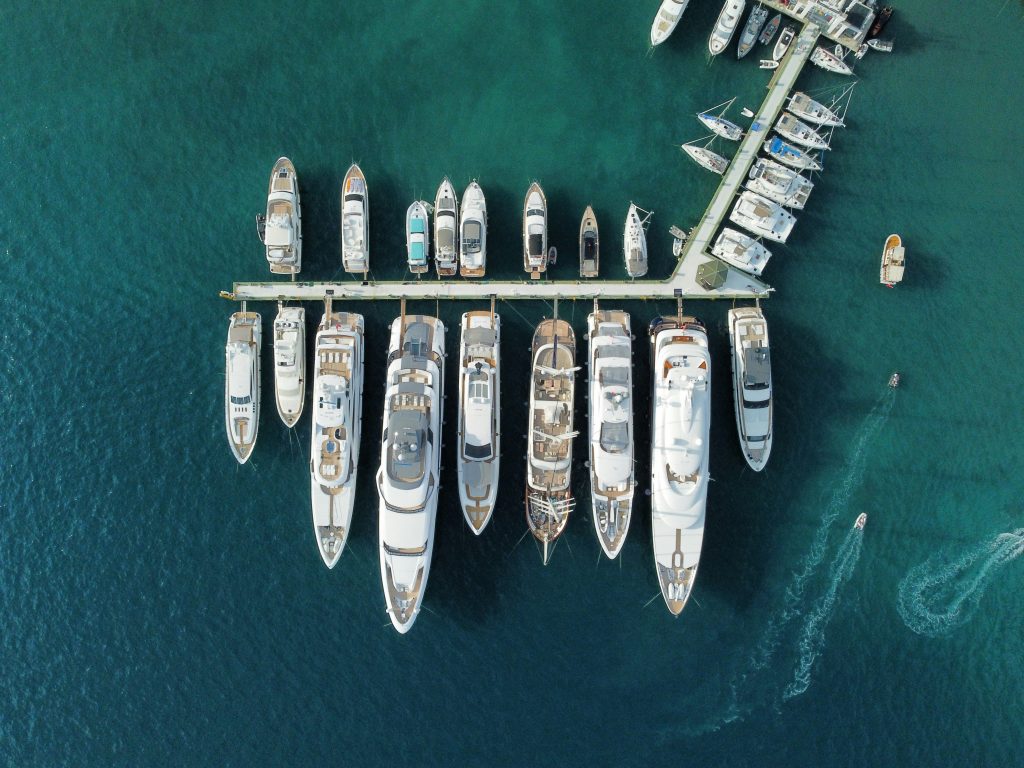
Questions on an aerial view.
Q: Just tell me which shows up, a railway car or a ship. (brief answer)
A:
ship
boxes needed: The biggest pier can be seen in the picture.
[233,24,820,300]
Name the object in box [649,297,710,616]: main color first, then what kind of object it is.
white boat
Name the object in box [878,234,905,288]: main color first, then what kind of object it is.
white boat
